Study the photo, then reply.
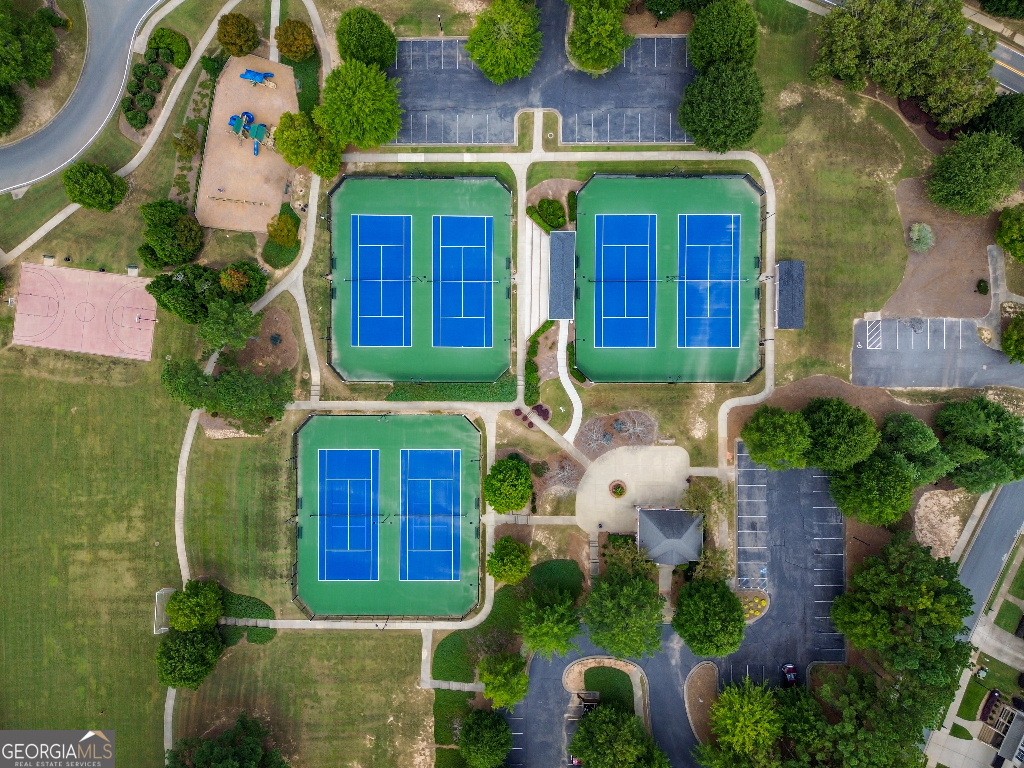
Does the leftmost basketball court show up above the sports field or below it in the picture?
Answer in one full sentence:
In the image, the leftmost basketball court appears above the sports field.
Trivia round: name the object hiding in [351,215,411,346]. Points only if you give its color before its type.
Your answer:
blue tennis court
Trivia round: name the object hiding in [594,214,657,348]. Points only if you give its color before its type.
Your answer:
blue tennis court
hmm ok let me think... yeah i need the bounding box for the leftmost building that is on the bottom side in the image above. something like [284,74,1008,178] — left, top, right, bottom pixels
[635,505,703,567]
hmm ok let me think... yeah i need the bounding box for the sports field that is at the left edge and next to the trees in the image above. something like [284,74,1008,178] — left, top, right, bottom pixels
[0,367,183,768]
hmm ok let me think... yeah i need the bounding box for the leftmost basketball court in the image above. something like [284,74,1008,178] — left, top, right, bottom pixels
[12,262,157,361]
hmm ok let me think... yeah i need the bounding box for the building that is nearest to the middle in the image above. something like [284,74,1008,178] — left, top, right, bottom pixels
[548,230,576,321]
